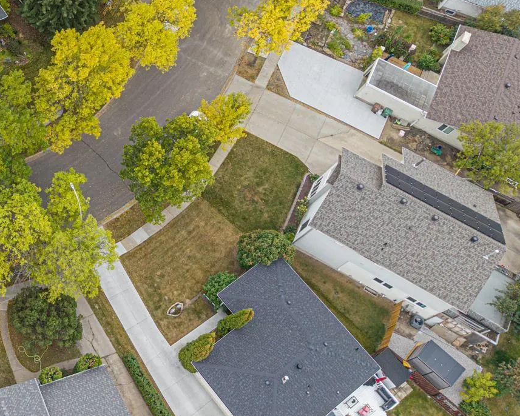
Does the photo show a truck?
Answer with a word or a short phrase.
No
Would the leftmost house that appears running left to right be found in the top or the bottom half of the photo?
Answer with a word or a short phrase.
bottom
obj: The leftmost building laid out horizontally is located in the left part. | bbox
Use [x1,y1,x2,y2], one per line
[0,361,130,416]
